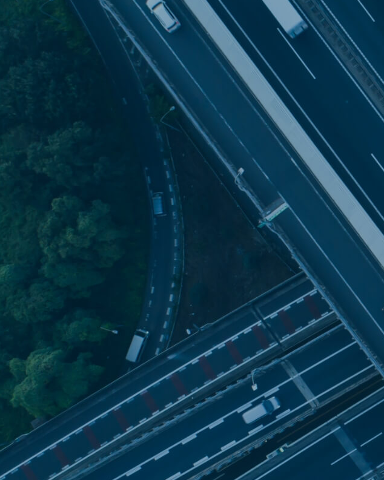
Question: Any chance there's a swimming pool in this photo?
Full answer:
No, the scene contains no swimming pool.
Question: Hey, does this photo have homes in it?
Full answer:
No, this view has no home in it.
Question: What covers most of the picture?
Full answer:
The scene is dominated by paved ground.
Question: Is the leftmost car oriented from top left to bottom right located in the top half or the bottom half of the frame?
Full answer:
It is in the top half that the leftmost car oriented from top left to bottom right appears.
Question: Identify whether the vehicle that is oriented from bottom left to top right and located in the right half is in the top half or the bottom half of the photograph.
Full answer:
The bottom half of the photo is where the vehicle that is oriented from bottom left to top right and located in the right half is.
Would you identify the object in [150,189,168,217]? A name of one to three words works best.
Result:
vehicle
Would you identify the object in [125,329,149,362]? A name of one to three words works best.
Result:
vehicle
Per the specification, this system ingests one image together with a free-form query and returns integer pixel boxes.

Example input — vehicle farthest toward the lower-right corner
[242,395,281,425]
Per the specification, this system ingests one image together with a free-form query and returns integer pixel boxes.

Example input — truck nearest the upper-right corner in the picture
[263,0,316,48]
